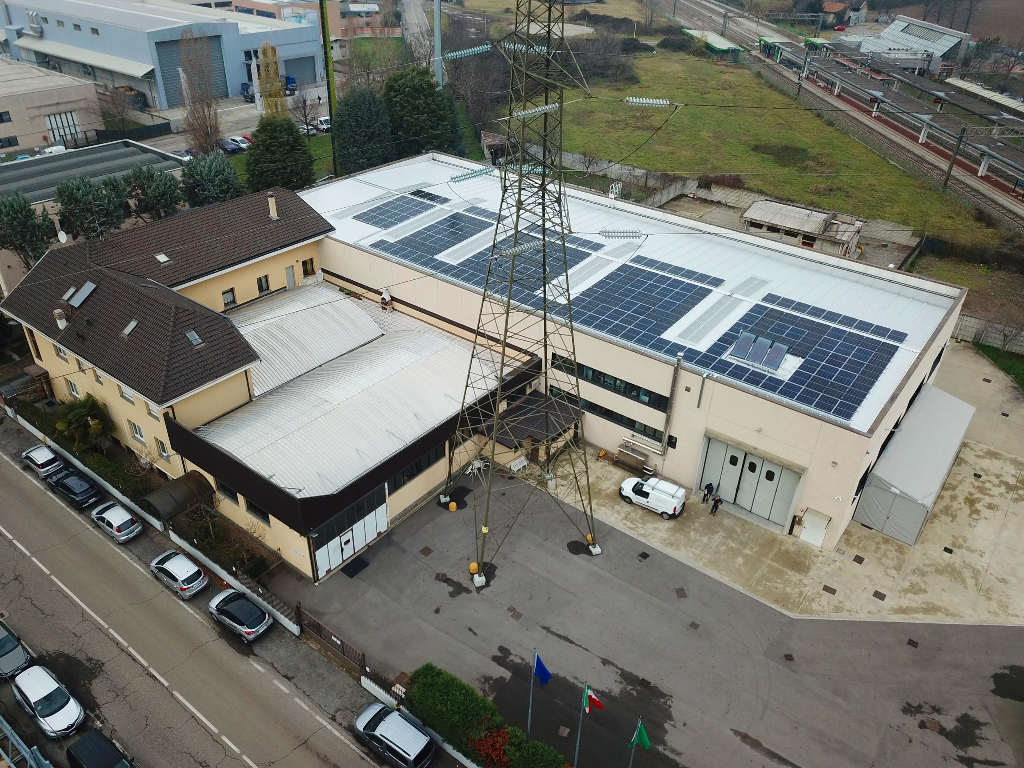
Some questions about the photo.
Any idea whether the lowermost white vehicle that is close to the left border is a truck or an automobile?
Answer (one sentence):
The lowermost white vehicle that is close to the left border is an automobile.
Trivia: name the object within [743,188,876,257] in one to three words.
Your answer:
shed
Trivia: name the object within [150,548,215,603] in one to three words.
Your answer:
car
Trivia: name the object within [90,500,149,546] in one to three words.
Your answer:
car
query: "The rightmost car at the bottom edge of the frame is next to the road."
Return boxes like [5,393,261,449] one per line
[353,700,445,768]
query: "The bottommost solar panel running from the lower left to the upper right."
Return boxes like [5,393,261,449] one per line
[62,278,96,319]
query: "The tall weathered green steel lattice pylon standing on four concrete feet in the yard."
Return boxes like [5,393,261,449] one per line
[439,0,603,587]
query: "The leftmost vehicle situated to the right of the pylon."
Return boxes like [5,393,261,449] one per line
[620,472,693,522]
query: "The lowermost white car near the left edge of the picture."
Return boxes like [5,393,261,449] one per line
[3,656,89,741]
